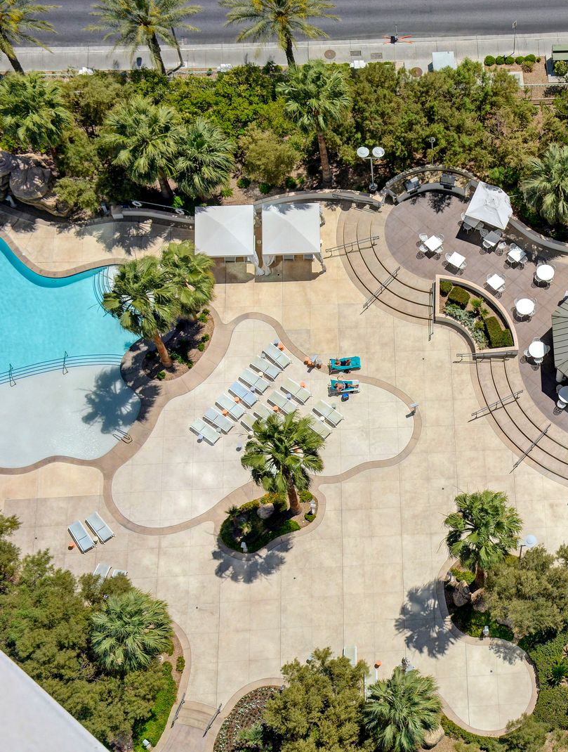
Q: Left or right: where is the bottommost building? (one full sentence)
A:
The bottommost building sits on the left side.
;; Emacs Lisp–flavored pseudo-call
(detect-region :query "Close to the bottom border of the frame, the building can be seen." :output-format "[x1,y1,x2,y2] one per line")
[0,644,116,752]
